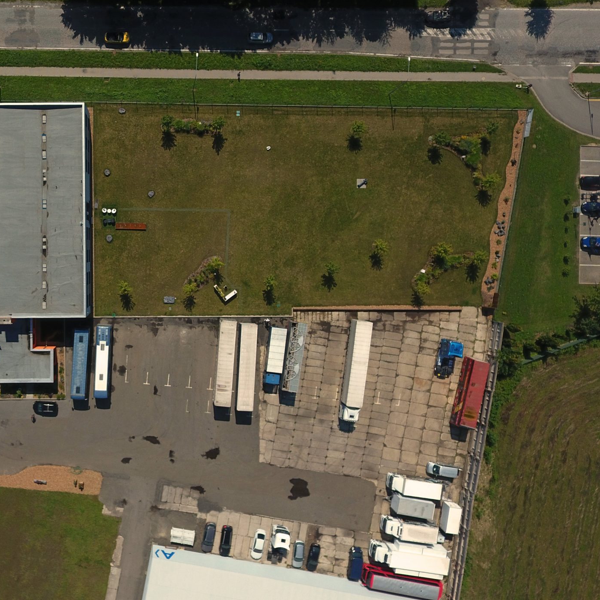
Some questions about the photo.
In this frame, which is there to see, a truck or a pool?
truck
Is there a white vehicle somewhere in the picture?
Yes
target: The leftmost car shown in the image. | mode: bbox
[34,401,58,414]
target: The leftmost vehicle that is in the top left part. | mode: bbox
[105,30,131,44]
